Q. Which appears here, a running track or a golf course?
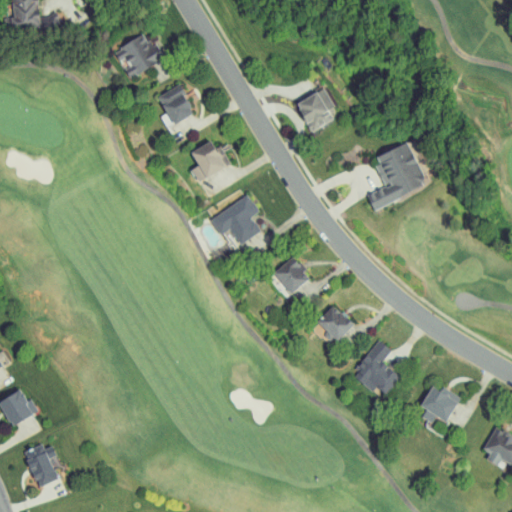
golf course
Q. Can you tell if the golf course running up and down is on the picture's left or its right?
right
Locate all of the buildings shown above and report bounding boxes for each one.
[23,444,66,488]
[116,34,163,80]
[0,390,40,426]
[368,143,426,210]
[356,341,398,396]
[484,426,512,471]
[190,141,230,182]
[314,306,354,340]
[298,88,337,132]
[423,388,462,423]
[275,258,310,293]
[208,190,260,243]
[4,0,54,26]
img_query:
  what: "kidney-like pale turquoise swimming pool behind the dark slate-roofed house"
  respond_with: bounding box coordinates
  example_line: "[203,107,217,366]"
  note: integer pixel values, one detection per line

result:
[202,224,220,248]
